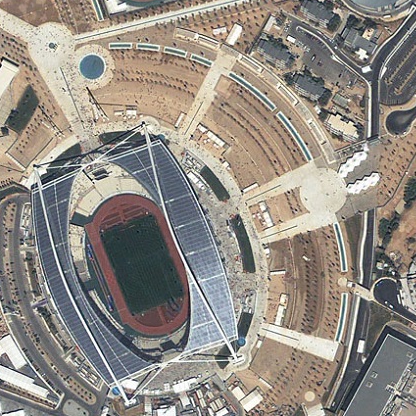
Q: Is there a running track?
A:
Yes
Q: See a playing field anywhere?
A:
Yes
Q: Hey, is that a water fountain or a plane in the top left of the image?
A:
water fountain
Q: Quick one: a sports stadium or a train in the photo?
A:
sports stadium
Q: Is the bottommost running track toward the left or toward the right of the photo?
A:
left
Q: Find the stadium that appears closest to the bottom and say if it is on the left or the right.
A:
left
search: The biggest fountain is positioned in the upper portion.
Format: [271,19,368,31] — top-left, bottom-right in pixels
[78,55,106,81]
